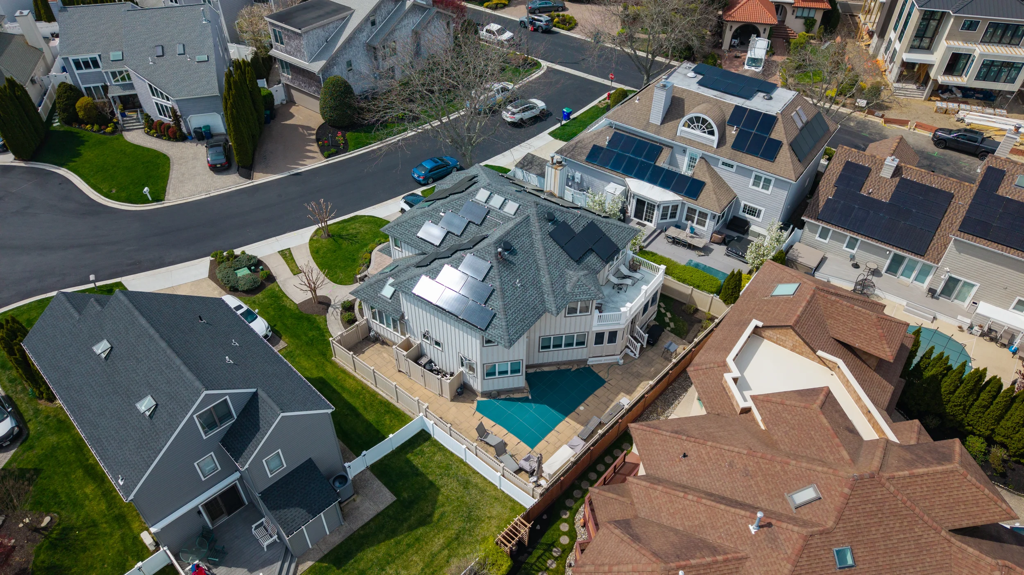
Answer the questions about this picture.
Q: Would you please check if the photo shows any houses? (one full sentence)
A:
Yes, there's a house here.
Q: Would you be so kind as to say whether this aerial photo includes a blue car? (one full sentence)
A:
Yes, looking at the shot, I can spot a blue car.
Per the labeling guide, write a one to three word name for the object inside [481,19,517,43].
truck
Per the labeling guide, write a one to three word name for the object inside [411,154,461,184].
car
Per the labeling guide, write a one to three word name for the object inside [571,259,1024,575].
house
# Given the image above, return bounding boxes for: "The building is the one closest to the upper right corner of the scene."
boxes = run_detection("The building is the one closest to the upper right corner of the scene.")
[857,0,1024,100]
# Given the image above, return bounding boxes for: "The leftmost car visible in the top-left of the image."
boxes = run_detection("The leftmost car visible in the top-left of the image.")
[203,136,229,167]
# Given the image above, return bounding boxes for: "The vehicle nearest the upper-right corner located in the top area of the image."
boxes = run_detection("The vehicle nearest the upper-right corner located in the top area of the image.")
[933,128,996,160]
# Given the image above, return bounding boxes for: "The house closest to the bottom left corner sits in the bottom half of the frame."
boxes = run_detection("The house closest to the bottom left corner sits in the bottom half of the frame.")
[21,288,348,575]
